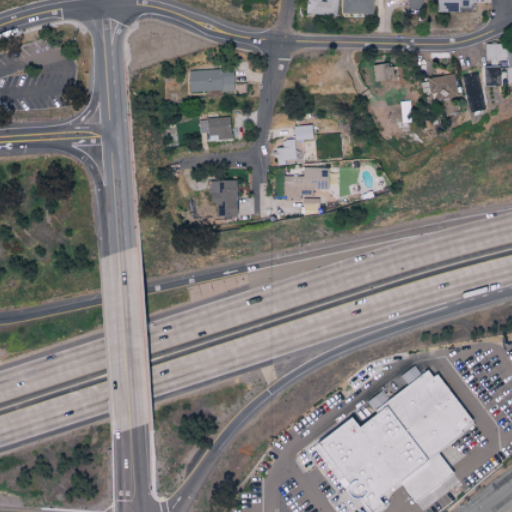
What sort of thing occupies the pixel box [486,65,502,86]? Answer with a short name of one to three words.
house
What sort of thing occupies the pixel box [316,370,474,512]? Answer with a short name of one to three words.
building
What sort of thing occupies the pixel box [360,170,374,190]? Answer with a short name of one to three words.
swimming pool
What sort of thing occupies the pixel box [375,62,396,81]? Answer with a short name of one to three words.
house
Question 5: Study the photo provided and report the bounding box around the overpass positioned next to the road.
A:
[100,246,152,433]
